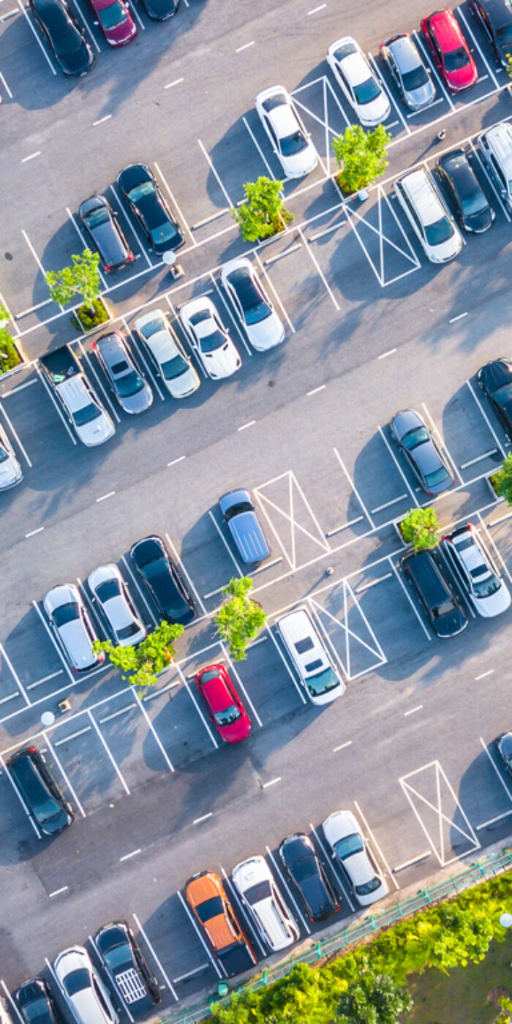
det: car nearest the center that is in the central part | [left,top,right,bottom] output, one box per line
[218,486,273,565]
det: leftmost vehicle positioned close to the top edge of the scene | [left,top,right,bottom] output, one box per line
[23,0,90,80]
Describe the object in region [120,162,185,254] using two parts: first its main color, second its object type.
blue car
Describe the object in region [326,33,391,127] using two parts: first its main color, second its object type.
white car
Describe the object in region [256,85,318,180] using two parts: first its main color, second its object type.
white car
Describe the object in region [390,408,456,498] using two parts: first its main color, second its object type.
blue car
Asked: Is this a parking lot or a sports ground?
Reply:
parking lot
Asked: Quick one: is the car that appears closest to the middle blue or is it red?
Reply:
blue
